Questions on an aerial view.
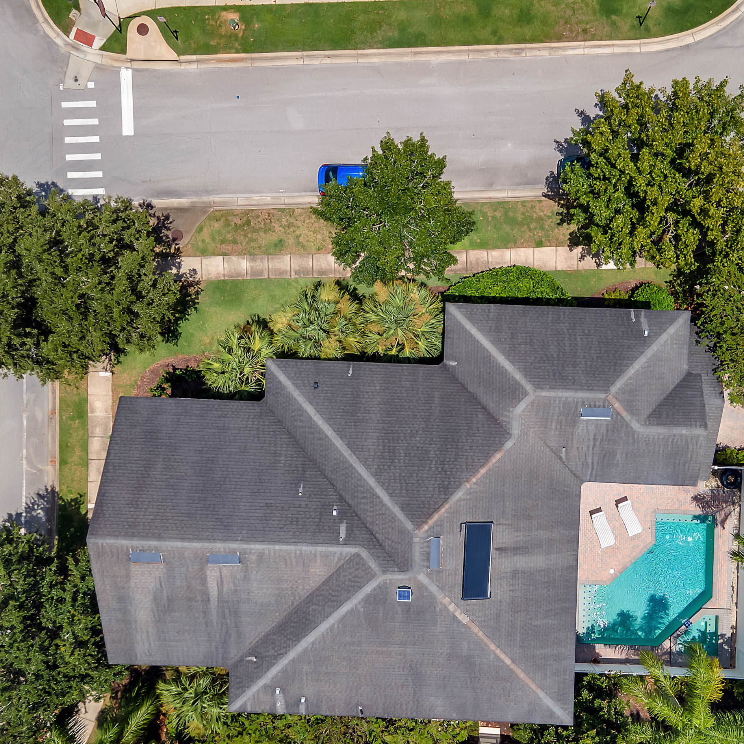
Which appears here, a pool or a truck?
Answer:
pool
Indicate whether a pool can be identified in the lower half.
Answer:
Yes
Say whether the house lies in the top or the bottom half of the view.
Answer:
bottom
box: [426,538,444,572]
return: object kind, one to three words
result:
solar panel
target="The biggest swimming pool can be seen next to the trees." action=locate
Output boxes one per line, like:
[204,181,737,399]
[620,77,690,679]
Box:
[576,509,720,652]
